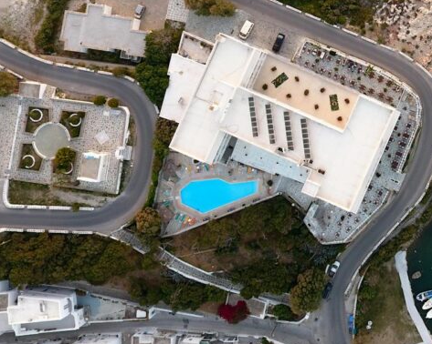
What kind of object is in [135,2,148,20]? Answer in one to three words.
vehicle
